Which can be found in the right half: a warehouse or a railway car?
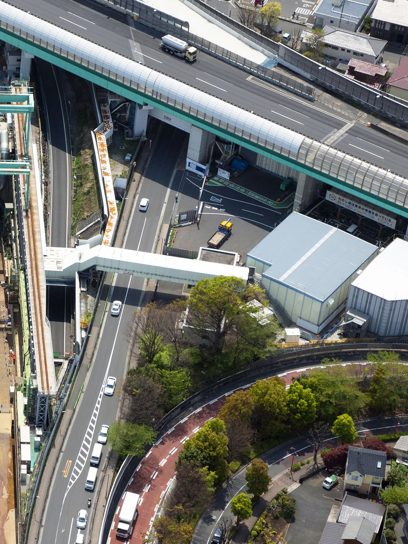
warehouse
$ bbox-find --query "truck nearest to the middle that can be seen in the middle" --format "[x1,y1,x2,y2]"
[208,217,233,244]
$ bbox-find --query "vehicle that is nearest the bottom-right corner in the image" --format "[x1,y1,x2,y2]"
[323,473,340,489]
